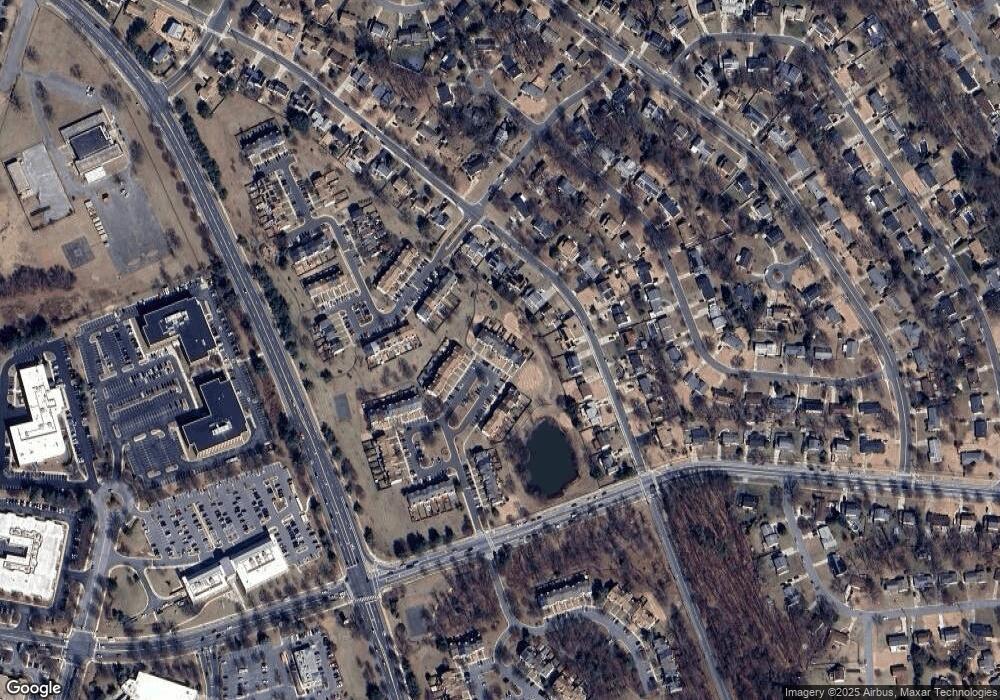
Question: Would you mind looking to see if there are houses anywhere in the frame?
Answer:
Yes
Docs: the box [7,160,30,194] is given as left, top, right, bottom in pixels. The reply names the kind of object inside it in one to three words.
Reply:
building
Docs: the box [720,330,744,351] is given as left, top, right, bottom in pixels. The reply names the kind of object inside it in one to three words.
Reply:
house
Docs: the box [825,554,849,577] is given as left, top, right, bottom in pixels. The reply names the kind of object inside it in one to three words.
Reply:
house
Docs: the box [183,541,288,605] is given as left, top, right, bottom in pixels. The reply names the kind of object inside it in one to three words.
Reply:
building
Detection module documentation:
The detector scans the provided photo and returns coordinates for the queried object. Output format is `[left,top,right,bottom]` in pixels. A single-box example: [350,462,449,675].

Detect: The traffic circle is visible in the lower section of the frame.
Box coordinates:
[95,479,134,516]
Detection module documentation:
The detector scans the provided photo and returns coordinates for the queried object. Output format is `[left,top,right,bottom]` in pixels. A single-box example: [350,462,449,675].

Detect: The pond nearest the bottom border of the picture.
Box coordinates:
[526,421,578,497]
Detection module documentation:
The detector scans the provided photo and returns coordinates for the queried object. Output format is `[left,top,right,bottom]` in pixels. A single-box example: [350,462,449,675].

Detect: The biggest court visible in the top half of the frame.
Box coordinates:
[62,236,95,268]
